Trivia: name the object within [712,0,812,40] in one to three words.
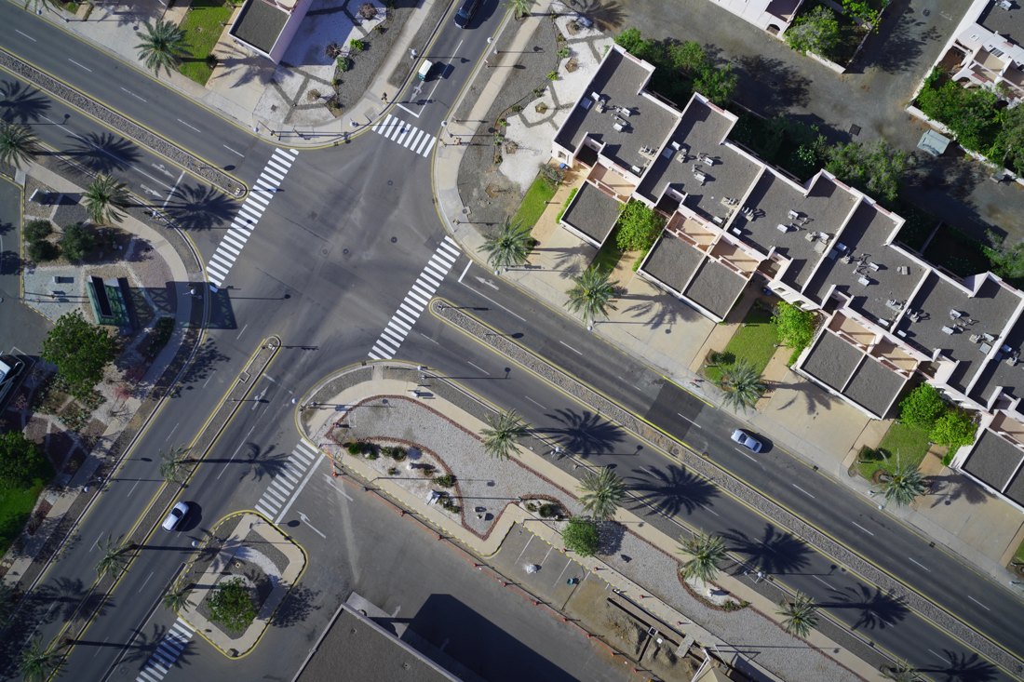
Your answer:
house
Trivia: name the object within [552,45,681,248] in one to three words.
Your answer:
house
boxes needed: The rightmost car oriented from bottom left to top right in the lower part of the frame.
[160,500,187,533]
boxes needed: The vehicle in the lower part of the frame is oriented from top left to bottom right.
[731,429,763,453]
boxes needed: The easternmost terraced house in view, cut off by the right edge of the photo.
[947,308,1024,493]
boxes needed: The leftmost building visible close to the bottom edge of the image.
[293,593,471,682]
